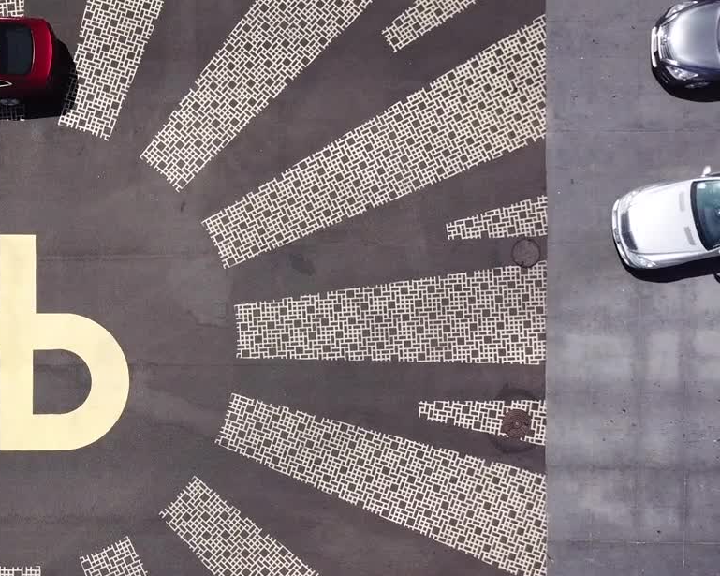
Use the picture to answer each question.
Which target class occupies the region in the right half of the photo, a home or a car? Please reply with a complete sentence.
The feature located in the right half of the photo is a car.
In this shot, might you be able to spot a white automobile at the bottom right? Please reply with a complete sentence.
No, looking at the bottom right, there is no white automobile.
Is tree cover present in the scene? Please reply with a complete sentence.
No, there is no tree cover in the image.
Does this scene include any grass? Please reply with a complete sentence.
No, there is no grass in the image.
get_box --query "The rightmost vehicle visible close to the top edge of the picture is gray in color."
[650,0,720,80]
